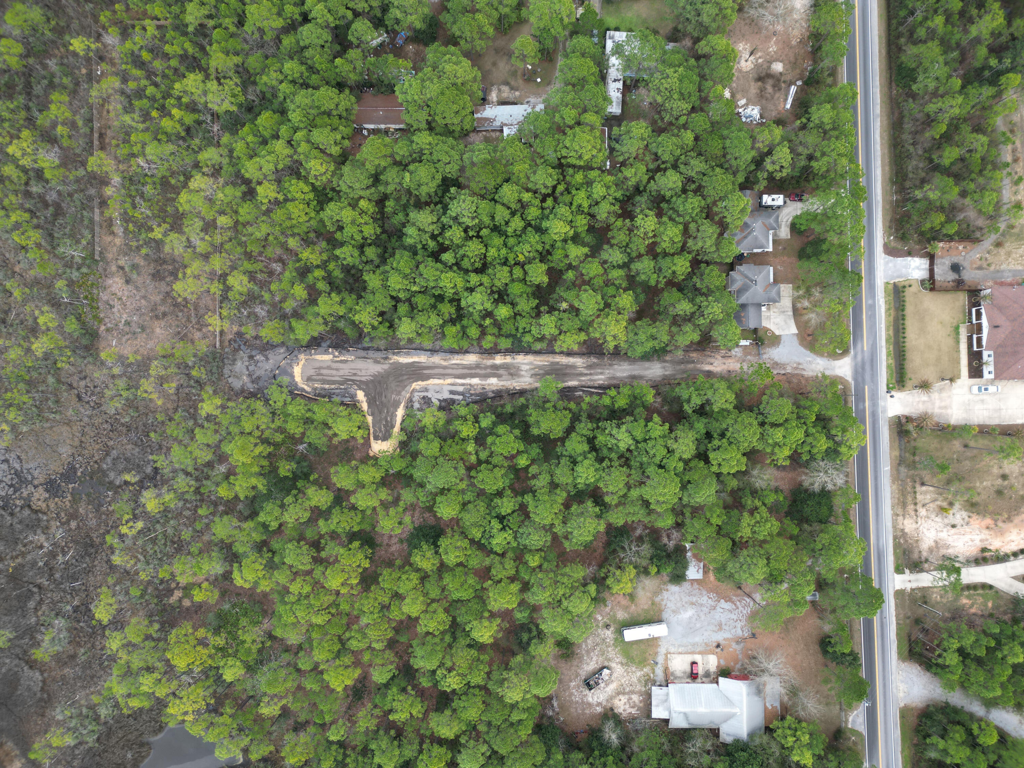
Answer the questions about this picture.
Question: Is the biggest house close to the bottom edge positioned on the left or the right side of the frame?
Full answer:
The biggest house close to the bottom edge appears in the right half of the scene.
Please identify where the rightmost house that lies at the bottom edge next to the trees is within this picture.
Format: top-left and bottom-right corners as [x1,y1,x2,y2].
[667,670,765,743]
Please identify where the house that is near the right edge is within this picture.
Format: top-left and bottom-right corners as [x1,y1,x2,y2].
[967,284,1024,379]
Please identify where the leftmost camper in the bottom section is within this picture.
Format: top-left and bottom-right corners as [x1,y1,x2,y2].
[622,622,667,641]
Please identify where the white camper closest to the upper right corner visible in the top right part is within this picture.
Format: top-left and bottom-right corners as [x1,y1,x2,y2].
[759,195,784,210]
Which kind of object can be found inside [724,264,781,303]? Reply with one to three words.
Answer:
house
